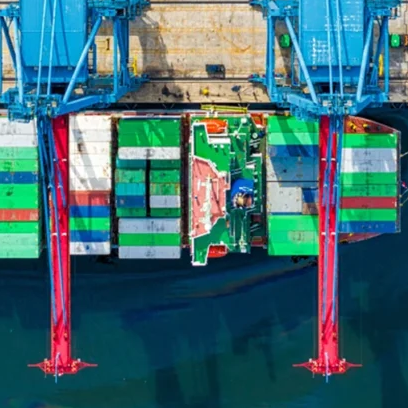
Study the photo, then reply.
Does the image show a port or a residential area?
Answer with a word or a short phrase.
port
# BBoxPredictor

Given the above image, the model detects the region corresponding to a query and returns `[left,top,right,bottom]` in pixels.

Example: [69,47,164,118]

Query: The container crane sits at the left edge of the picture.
[0,0,153,383]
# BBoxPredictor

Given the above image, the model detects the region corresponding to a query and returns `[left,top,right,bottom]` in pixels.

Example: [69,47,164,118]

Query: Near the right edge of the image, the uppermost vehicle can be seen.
[389,32,408,46]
